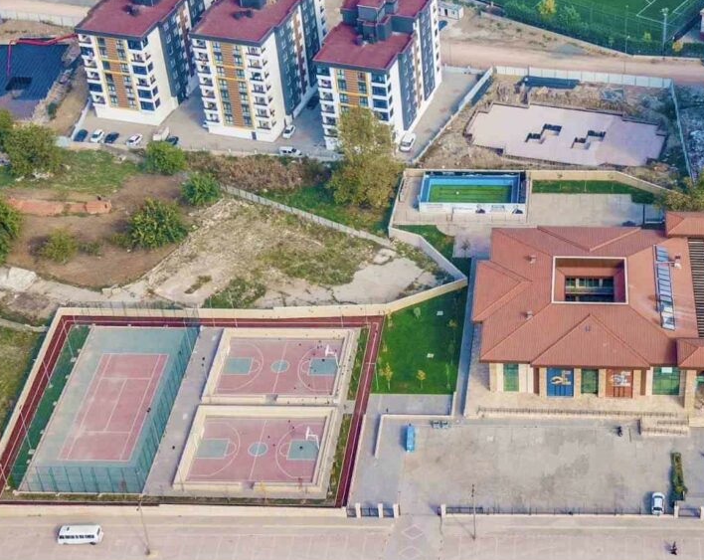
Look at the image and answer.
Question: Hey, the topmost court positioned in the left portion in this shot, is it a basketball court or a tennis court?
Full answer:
Looking closely, the topmost court positioned in the left portion is a basketball court.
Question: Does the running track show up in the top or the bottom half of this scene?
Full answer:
The running track is in the bottom half of the image.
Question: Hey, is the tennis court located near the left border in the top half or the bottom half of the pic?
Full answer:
You can find the tennis court located near the left border in the bottom half.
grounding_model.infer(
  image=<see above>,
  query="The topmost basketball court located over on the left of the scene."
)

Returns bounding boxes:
[201,327,353,404]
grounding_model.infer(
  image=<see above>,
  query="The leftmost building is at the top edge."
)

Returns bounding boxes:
[71,0,213,126]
